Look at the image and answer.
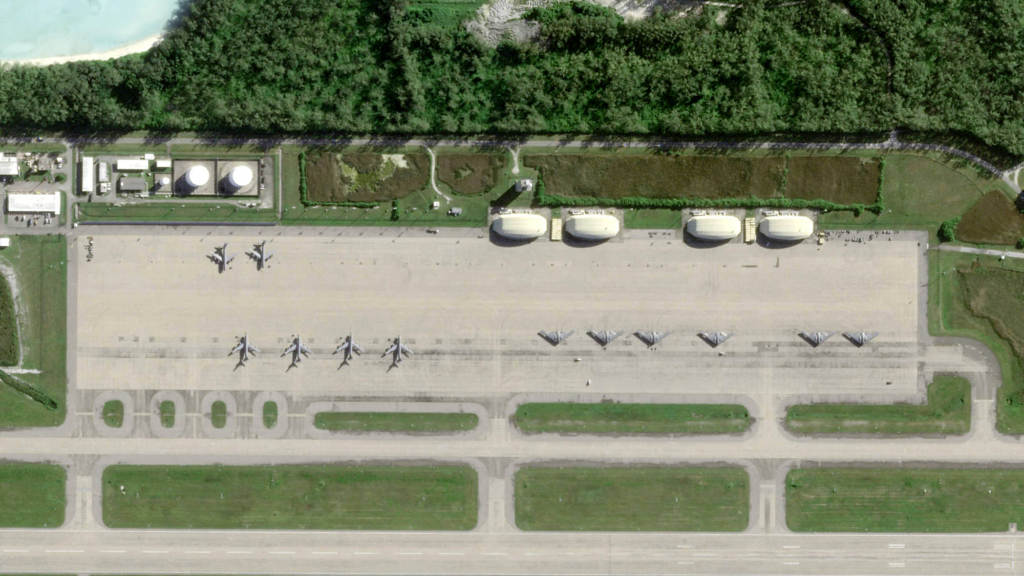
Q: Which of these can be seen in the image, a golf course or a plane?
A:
plane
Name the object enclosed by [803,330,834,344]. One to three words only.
airplane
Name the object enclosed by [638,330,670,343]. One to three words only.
airplane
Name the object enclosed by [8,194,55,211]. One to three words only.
building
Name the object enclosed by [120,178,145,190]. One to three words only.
building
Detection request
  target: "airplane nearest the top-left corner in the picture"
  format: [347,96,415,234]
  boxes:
[212,242,238,271]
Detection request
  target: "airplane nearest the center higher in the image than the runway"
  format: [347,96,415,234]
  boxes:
[541,329,574,344]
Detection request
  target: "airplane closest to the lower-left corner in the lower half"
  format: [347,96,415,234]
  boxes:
[234,334,260,362]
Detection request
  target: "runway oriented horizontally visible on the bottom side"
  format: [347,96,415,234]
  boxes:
[0,529,1024,575]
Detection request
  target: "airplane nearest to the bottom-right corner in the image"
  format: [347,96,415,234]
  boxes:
[847,330,879,344]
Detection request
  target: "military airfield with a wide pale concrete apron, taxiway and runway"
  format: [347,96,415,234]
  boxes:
[0,207,1024,576]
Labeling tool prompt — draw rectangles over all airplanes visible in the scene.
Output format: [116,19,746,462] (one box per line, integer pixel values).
[339,334,364,362]
[591,330,623,343]
[803,330,834,344]
[251,240,276,268]
[638,330,670,343]
[212,242,238,271]
[541,329,574,344]
[234,334,260,362]
[702,331,733,345]
[387,336,413,364]
[286,336,312,364]
[847,330,879,344]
